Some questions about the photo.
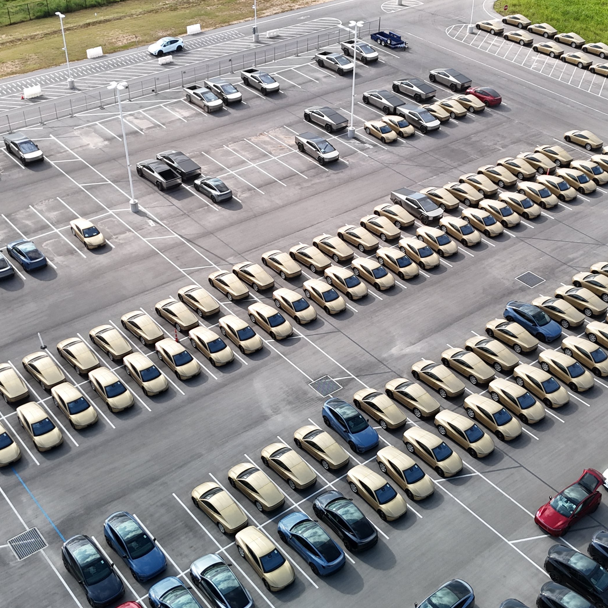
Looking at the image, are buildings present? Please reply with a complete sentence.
No, there is no building in the image.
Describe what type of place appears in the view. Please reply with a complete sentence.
This looks like a parking lot.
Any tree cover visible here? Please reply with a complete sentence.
No, the scene doesn't show any tree cover.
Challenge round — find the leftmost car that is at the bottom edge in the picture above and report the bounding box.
[59,533,124,608]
